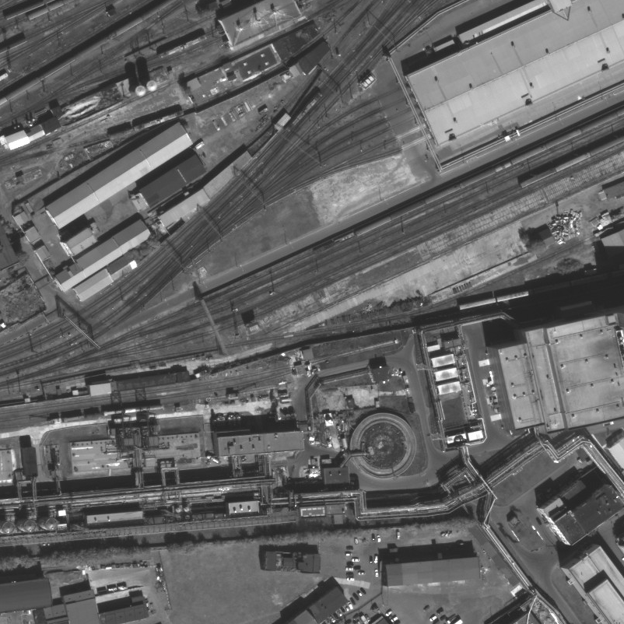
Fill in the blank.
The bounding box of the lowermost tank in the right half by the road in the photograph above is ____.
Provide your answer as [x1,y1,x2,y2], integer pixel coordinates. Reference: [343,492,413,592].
[342,412,415,478]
